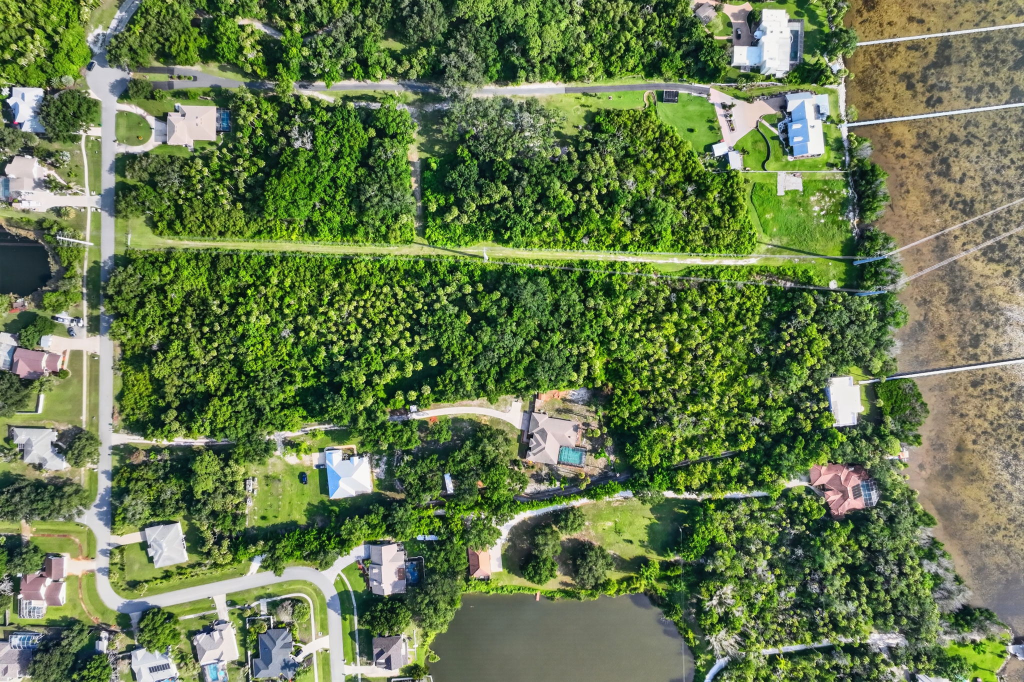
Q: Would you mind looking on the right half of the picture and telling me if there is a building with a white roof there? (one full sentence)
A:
Yes, there is a building with a white roof on the right half of the picture.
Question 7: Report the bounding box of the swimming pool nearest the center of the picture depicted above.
[559,447,583,463]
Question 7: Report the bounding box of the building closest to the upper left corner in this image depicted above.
[7,87,48,133]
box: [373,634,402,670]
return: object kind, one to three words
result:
house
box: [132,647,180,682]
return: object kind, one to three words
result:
house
